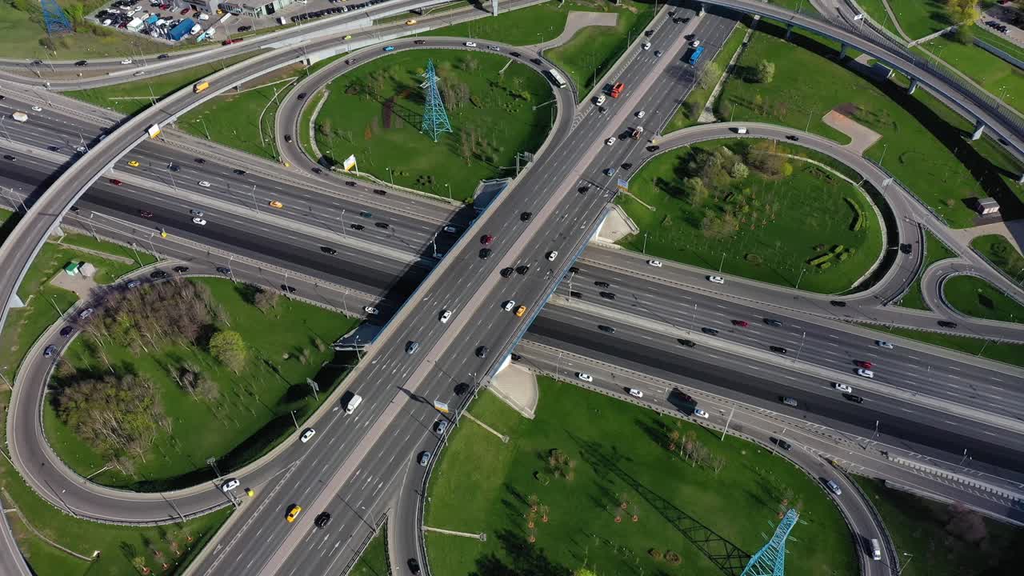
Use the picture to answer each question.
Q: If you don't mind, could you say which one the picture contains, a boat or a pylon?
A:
pylon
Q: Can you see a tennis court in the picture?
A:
No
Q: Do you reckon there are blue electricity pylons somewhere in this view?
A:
Yes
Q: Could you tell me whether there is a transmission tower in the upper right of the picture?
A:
No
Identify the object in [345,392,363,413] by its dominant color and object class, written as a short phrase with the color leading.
white vehicle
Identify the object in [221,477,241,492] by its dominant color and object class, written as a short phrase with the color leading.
white car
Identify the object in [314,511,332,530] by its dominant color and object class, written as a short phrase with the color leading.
black car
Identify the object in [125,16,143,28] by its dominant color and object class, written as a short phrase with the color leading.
white vehicle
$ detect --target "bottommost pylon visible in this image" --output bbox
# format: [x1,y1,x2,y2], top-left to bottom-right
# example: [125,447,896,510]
[736,508,800,576]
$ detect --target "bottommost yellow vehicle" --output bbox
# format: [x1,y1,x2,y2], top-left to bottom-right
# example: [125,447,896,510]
[285,504,303,524]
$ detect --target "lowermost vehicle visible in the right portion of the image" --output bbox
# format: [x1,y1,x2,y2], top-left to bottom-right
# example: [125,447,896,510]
[869,539,885,562]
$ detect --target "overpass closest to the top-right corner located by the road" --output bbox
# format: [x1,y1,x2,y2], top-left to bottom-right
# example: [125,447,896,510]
[705,0,1024,151]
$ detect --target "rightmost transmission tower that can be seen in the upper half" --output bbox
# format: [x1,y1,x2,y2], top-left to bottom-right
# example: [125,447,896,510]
[419,61,454,142]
